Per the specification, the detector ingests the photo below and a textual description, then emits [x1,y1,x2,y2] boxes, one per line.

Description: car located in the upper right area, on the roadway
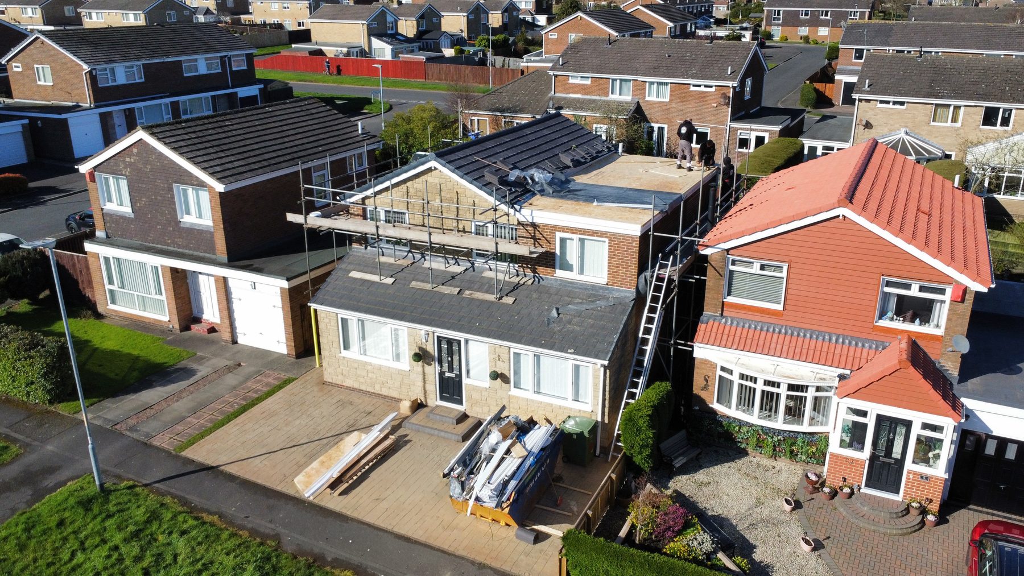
[758,43,786,57]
